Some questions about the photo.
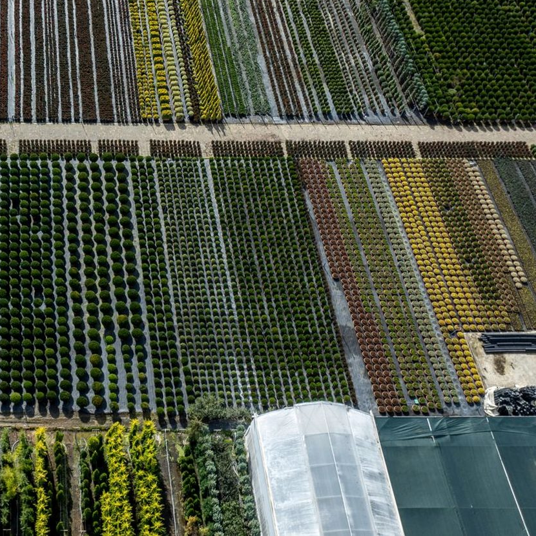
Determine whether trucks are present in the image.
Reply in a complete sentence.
No, there's no truck here.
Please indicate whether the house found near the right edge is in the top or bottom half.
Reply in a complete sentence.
The house found near the right edge is in the bottom half of the image.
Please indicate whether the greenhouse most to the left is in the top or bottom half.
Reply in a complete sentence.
You can find the greenhouse most to the left in the bottom half.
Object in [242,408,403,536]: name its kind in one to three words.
greenhouse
